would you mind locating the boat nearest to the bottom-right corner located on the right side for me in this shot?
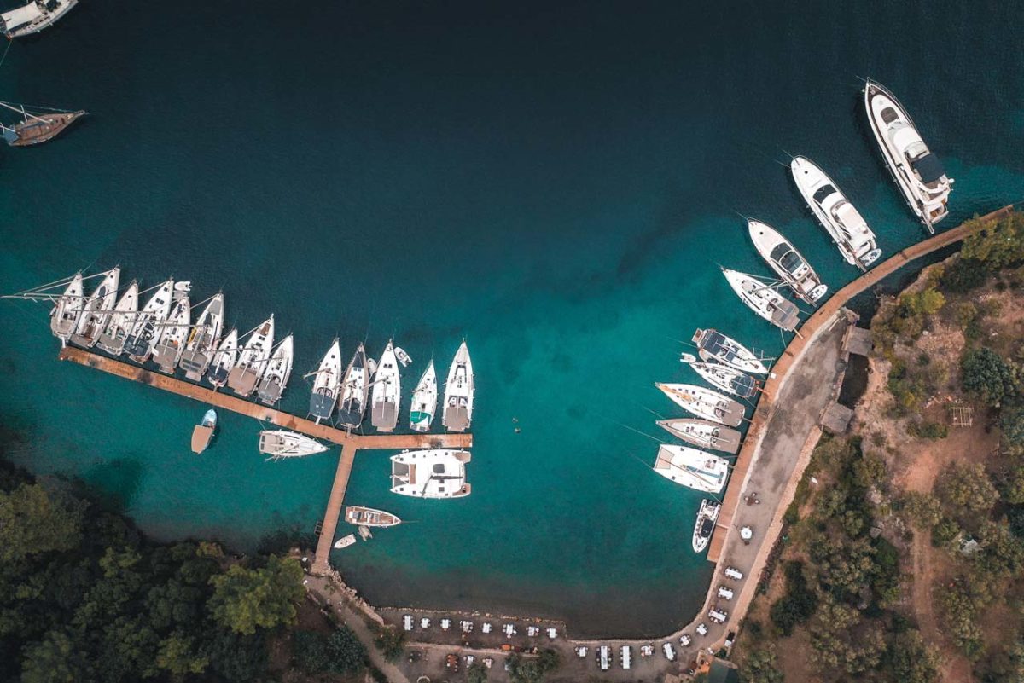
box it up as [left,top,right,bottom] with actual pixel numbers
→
[695,500,719,554]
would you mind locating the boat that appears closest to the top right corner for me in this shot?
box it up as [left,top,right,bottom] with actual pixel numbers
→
[857,75,961,234]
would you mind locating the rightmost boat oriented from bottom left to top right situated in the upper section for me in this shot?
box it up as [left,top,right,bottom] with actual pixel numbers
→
[860,249,883,265]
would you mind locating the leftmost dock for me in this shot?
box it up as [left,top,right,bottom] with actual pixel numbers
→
[59,346,472,575]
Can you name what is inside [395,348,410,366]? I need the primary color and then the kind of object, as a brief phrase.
white boat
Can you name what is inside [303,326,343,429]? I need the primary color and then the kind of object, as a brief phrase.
white boat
